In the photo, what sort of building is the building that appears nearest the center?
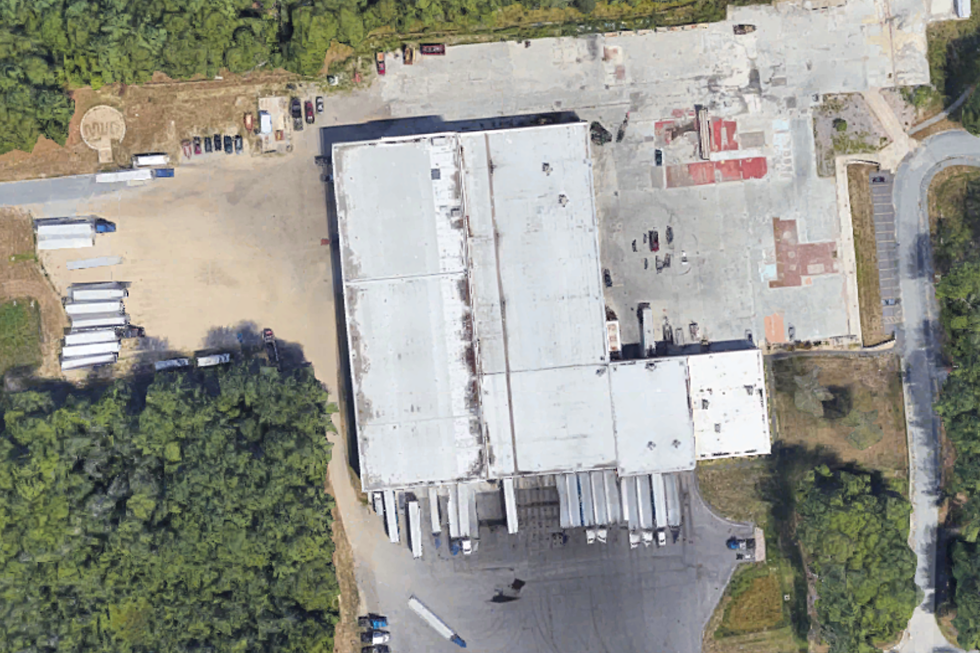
warehouse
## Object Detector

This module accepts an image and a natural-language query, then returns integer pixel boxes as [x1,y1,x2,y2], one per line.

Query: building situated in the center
[333,122,771,493]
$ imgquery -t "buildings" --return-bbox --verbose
[333,122,771,493]
[952,0,970,19]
